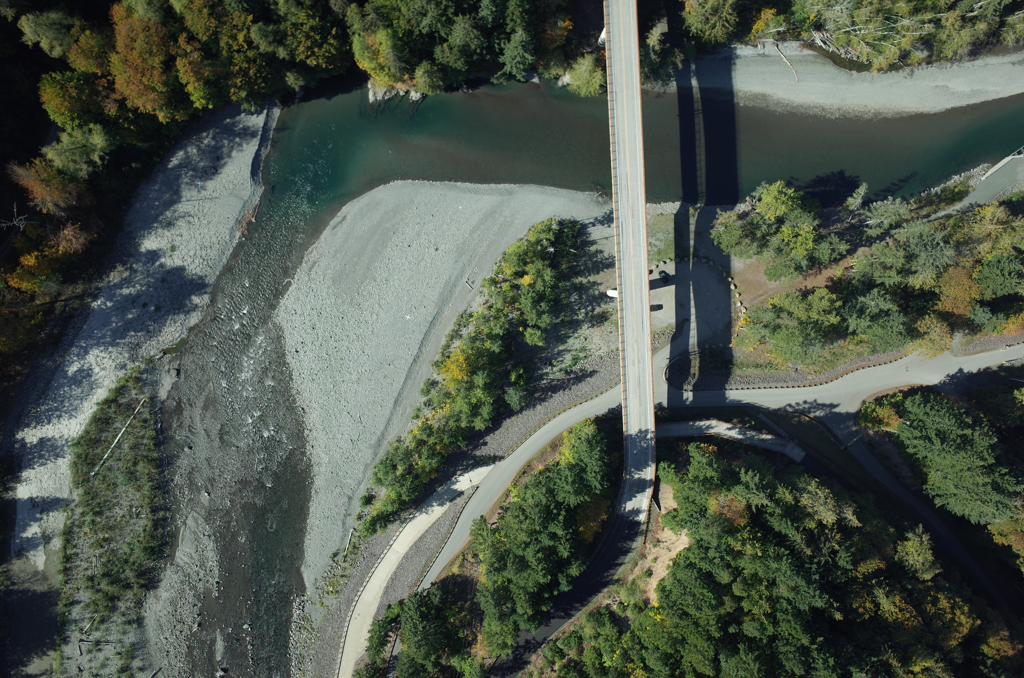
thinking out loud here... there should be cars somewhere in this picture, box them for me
[650,305,660,311]
[658,271,669,283]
